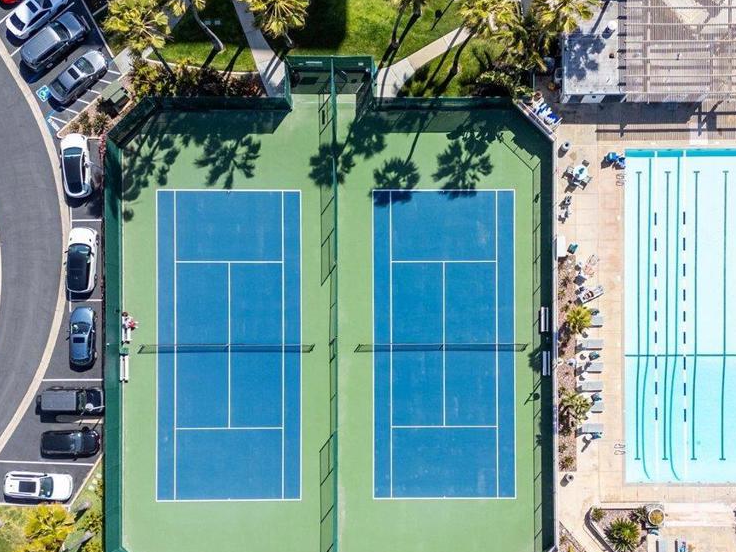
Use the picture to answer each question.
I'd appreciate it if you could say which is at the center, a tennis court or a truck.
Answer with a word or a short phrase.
tennis court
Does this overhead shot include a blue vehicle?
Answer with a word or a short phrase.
Yes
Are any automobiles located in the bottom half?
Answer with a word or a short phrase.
Yes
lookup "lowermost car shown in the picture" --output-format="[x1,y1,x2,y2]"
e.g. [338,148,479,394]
[1,471,76,502]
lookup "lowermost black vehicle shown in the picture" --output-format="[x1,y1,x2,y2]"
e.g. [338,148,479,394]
[38,430,103,459]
